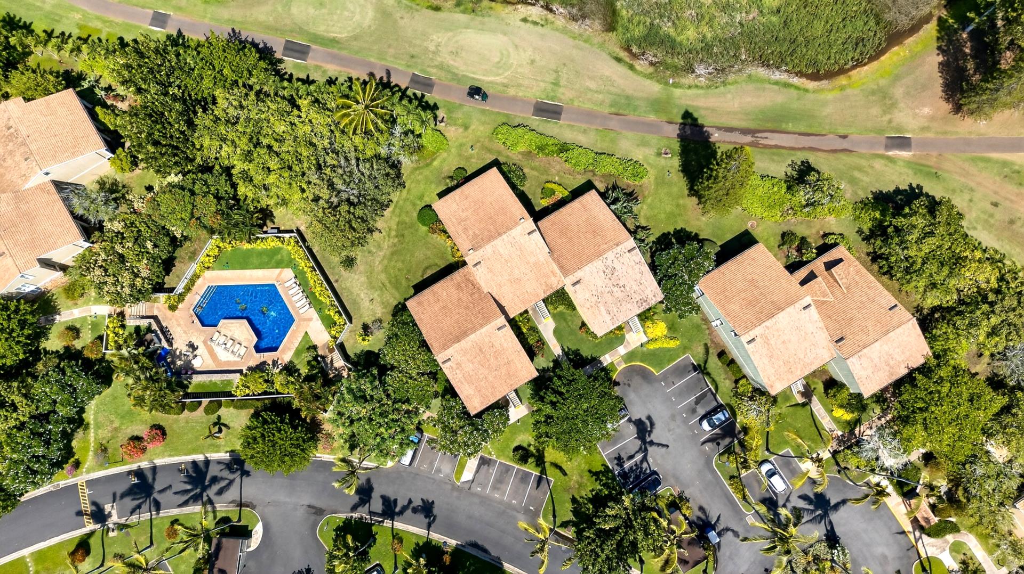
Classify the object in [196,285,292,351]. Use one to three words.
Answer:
swimming pool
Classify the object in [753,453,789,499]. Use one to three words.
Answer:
car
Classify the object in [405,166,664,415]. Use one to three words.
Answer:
house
